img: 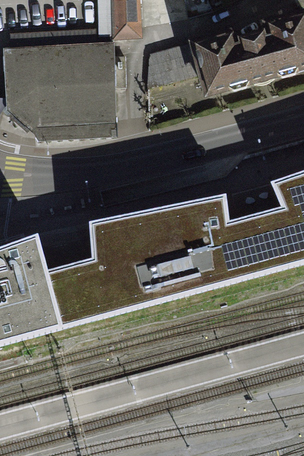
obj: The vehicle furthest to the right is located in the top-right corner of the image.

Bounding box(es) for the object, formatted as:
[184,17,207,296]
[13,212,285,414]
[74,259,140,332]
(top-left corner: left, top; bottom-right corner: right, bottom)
[240,21,260,34]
